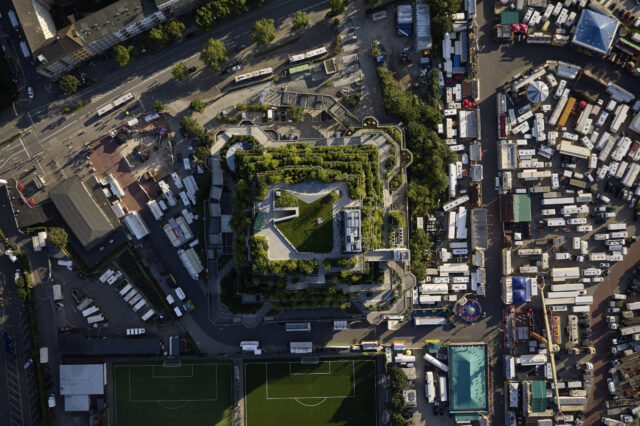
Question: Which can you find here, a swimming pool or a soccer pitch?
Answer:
soccer pitch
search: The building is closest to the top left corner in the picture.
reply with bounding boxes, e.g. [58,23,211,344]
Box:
[12,0,59,51]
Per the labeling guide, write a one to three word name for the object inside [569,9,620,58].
building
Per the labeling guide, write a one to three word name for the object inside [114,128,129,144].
umbrella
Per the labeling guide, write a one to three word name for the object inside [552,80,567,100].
camper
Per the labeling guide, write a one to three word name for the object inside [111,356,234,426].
soccer field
